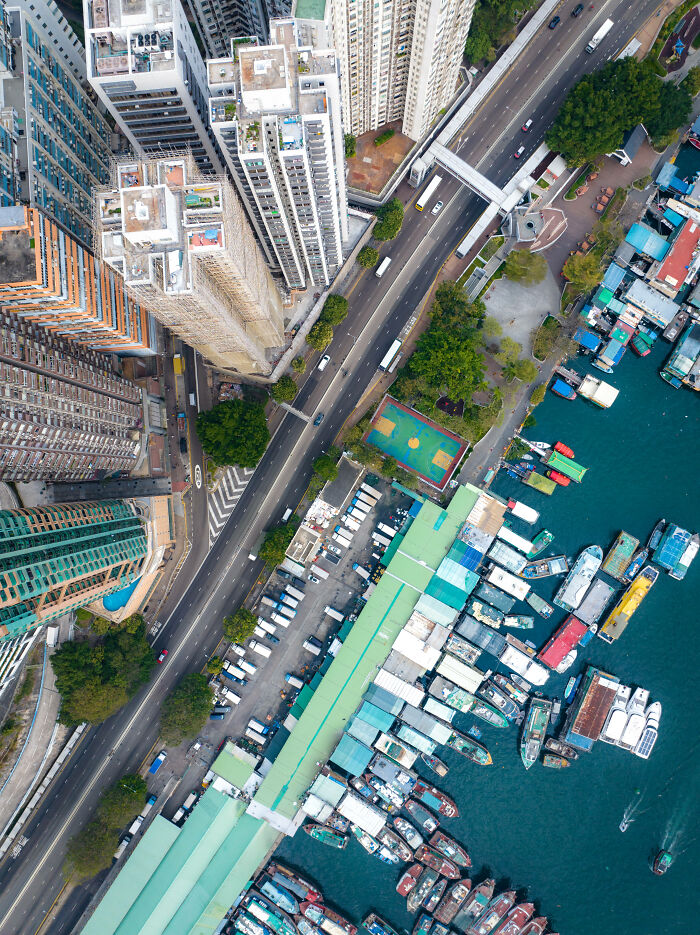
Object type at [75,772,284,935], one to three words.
building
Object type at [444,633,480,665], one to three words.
ship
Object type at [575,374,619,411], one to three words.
boat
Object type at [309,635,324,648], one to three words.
vehicle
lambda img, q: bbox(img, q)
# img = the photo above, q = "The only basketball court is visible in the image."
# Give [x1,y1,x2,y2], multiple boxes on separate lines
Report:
[358,393,472,493]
